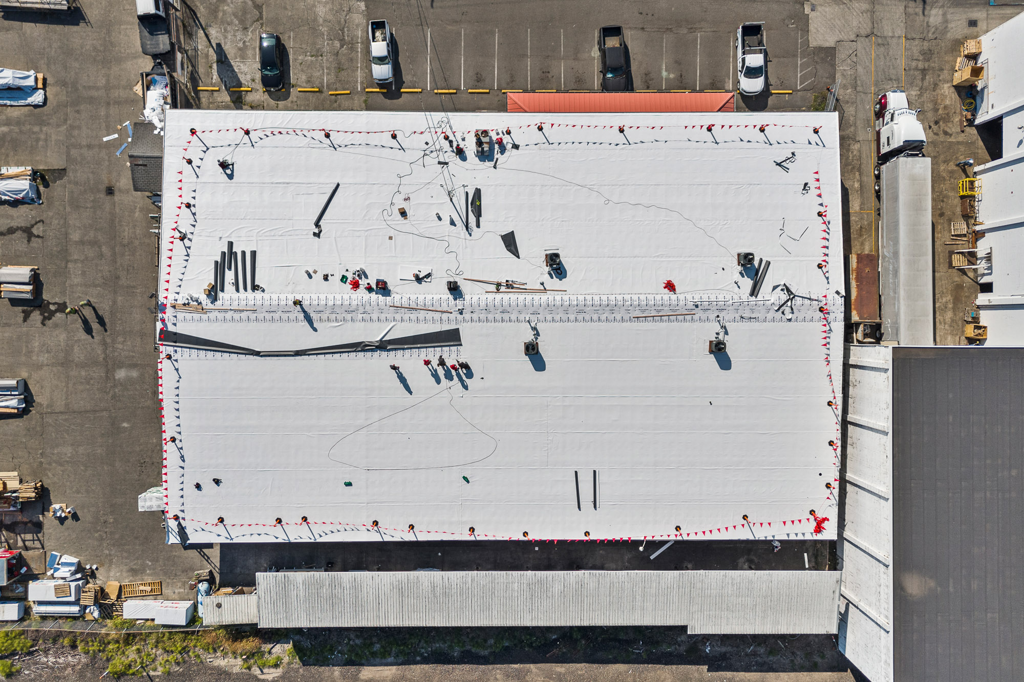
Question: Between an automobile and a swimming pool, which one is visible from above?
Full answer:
I can see an automobile in this picture.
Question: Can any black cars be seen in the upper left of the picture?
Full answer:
Yes, a black car can be seen in the upper left of the picture.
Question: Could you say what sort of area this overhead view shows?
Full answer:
It's an industrial area.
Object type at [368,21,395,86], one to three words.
truck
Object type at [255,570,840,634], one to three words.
shed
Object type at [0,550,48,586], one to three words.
trailer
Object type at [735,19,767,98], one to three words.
truck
